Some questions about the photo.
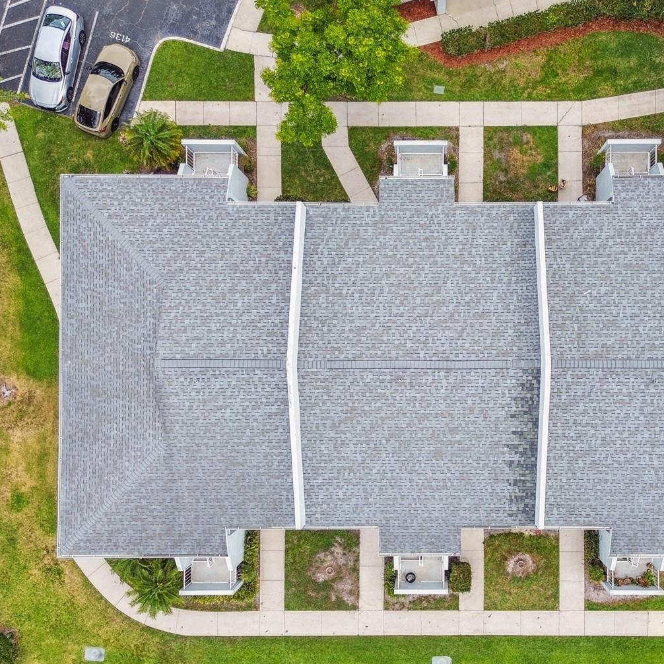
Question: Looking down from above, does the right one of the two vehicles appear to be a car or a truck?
car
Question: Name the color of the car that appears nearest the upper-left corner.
white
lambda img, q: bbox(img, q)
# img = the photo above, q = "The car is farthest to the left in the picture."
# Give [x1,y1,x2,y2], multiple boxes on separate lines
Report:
[22,3,86,112]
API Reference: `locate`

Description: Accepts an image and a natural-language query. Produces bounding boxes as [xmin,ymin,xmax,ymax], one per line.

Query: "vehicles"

[69,41,140,139]
[22,3,86,112]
